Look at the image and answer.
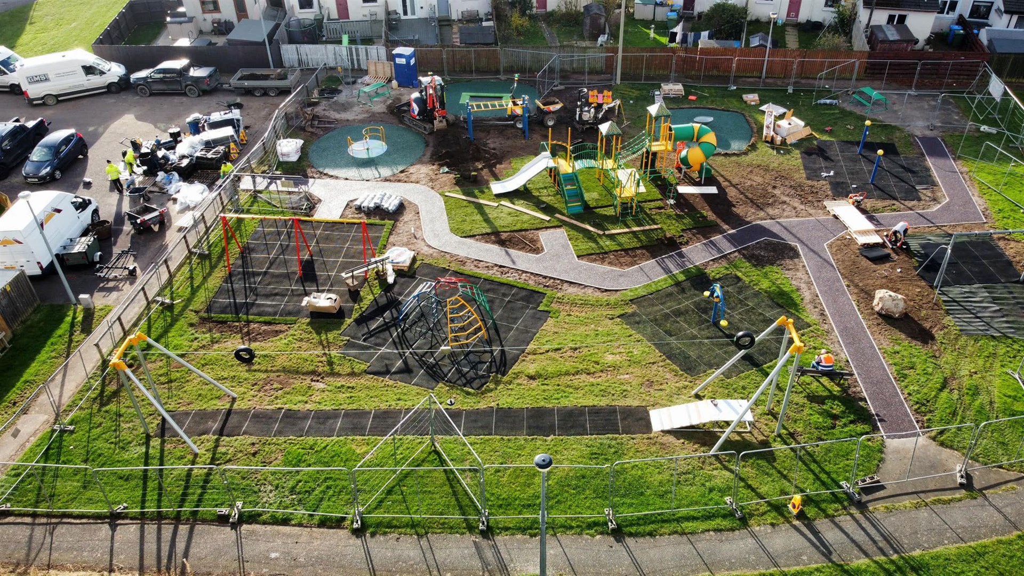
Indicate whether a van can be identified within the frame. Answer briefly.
Yes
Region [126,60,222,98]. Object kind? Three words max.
truck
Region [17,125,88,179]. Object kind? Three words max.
car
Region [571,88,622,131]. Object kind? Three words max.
work vehicle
